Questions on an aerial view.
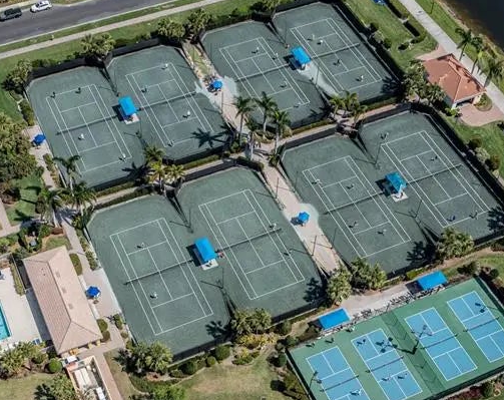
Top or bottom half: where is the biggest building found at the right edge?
top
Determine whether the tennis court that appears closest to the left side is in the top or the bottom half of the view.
top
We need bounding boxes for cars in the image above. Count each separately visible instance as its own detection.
[31,0,52,13]
[0,7,21,21]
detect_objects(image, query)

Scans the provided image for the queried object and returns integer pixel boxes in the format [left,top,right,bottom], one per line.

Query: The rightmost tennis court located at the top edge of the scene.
[272,1,405,110]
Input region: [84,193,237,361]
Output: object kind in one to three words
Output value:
tennis court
